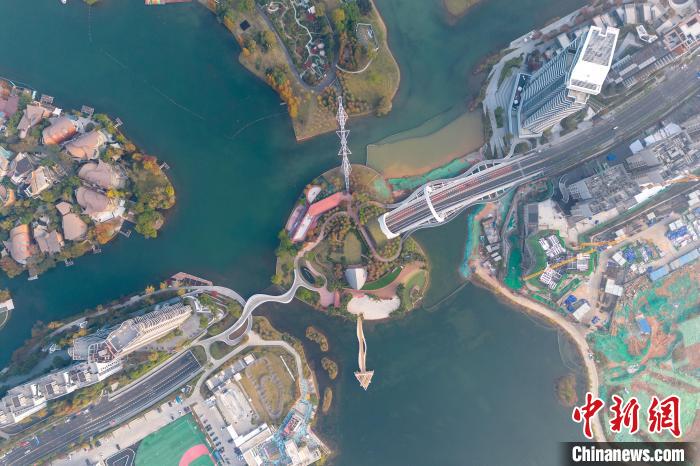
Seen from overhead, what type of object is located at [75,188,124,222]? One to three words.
house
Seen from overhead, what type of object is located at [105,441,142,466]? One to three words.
sports court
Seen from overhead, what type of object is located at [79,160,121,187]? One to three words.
house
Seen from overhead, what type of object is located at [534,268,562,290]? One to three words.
building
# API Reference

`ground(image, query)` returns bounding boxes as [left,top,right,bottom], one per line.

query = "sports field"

[137,413,227,466]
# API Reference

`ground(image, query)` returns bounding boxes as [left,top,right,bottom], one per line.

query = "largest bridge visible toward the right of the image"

[373,141,548,240]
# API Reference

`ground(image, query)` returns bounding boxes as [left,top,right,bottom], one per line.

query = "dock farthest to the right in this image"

[354,315,375,389]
